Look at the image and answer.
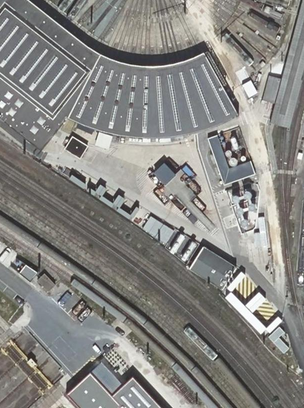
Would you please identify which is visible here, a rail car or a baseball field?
rail car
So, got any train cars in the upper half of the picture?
Yes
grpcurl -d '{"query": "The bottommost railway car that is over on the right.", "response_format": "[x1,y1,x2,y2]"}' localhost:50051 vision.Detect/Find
[184,328,219,359]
